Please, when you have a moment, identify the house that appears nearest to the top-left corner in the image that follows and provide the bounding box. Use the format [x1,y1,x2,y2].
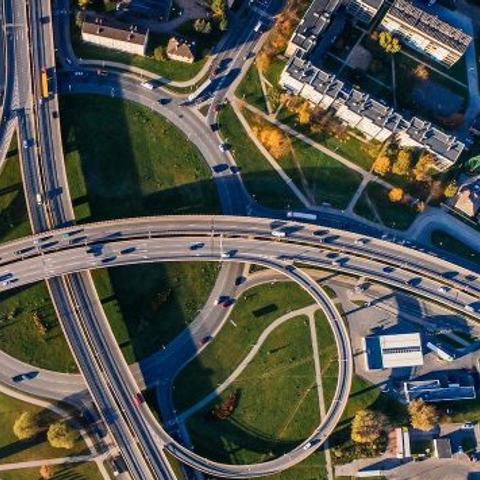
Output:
[82,11,151,50]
